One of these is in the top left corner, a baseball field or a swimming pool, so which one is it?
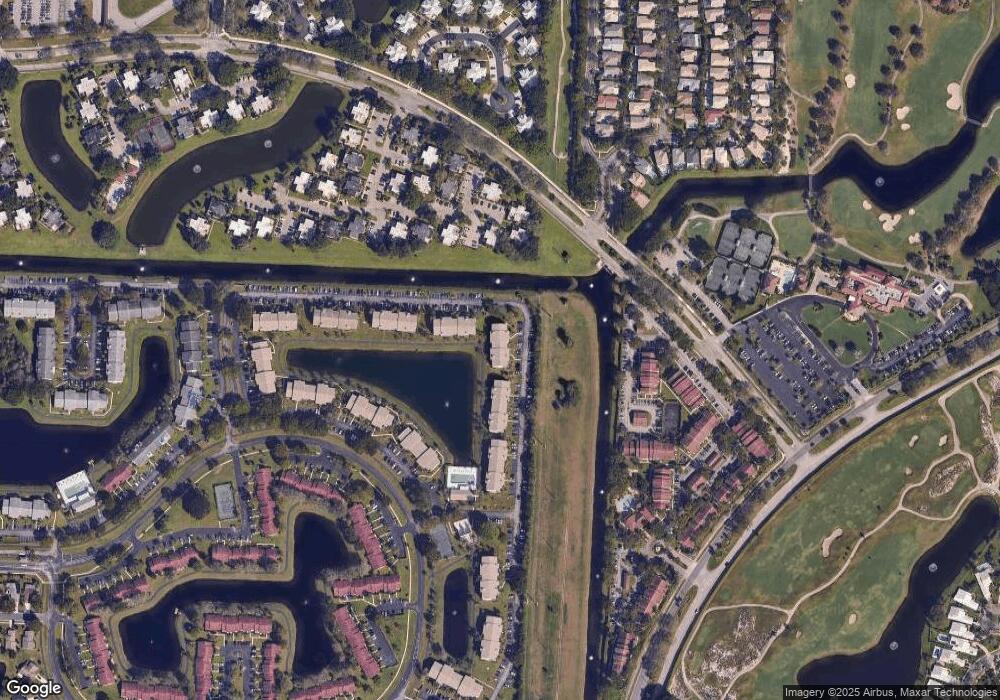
swimming pool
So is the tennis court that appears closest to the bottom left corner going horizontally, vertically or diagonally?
vertically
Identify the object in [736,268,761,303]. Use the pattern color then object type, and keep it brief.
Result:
gray tennis court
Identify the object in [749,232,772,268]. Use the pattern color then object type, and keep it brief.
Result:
gray tennis court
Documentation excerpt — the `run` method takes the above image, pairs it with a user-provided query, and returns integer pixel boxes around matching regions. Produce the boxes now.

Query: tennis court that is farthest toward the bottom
[431,523,454,557]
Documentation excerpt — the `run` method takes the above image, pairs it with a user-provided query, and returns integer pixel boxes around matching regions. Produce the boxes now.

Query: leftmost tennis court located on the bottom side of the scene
[215,483,235,519]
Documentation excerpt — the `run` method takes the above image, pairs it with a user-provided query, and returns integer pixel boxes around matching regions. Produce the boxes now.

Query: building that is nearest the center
[489,324,510,367]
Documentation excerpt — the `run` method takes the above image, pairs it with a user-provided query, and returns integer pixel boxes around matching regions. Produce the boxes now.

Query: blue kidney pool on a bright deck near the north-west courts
[108,163,137,206]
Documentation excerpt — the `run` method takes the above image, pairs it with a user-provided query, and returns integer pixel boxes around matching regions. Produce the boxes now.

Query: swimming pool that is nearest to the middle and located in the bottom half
[447,467,477,489]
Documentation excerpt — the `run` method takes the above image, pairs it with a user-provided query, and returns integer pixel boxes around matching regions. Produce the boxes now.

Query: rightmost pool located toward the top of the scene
[771,261,796,294]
